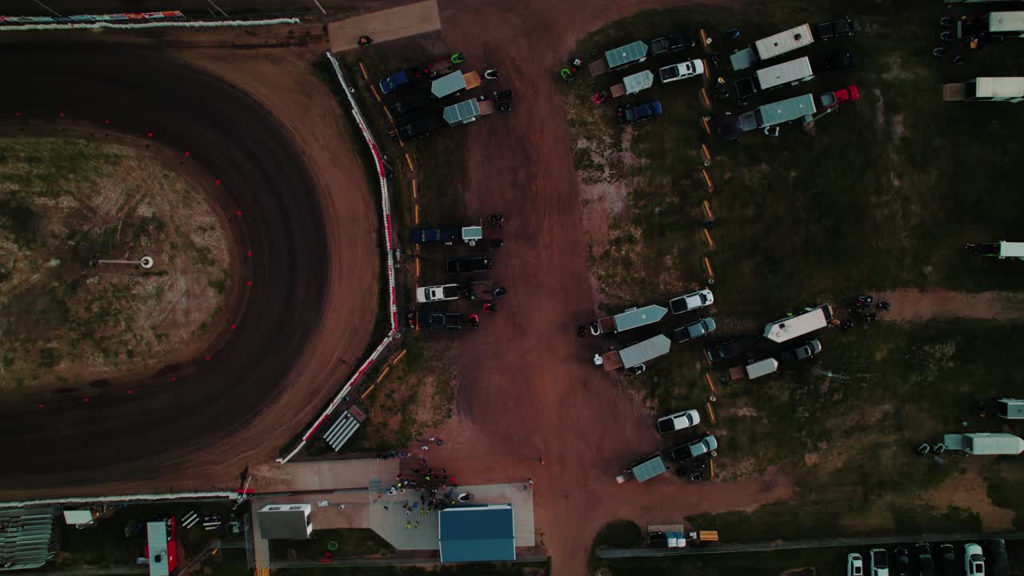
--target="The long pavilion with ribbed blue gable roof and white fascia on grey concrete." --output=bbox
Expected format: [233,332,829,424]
[438,504,517,563]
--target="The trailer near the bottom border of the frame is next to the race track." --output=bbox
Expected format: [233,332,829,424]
[146,512,185,576]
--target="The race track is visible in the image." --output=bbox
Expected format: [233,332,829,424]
[0,24,377,503]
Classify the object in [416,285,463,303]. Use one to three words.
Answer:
vehicle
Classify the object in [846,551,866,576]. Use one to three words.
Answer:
car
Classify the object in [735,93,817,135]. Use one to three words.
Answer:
trailer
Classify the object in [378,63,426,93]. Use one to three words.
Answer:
truck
